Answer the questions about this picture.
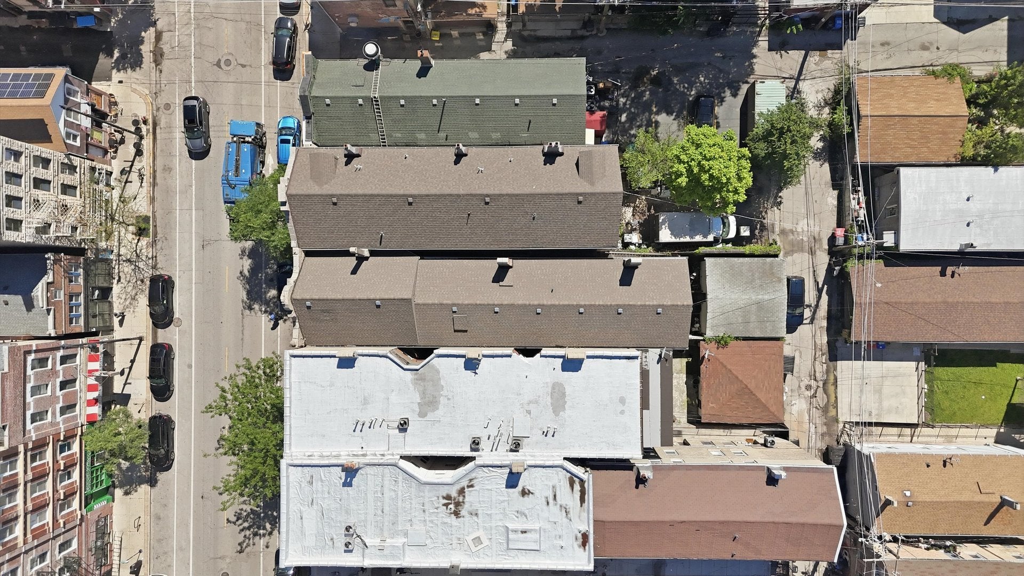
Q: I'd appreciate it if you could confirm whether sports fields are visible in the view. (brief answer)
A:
No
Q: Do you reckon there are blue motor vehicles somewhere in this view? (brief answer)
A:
Yes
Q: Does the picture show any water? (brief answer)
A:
No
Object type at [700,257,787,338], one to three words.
building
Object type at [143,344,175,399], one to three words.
car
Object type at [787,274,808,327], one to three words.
car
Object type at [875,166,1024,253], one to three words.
house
